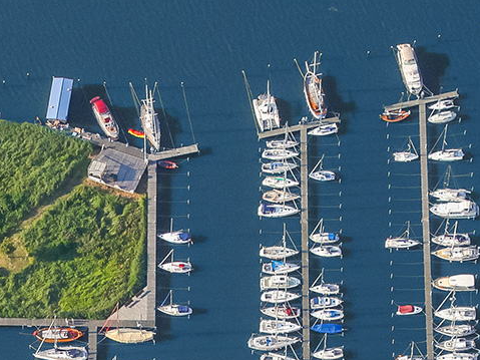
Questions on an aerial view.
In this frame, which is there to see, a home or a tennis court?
home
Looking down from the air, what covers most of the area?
water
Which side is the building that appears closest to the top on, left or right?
left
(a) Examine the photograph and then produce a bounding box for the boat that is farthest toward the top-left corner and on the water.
[90,94,115,138]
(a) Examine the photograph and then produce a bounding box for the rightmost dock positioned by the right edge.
[383,91,459,360]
